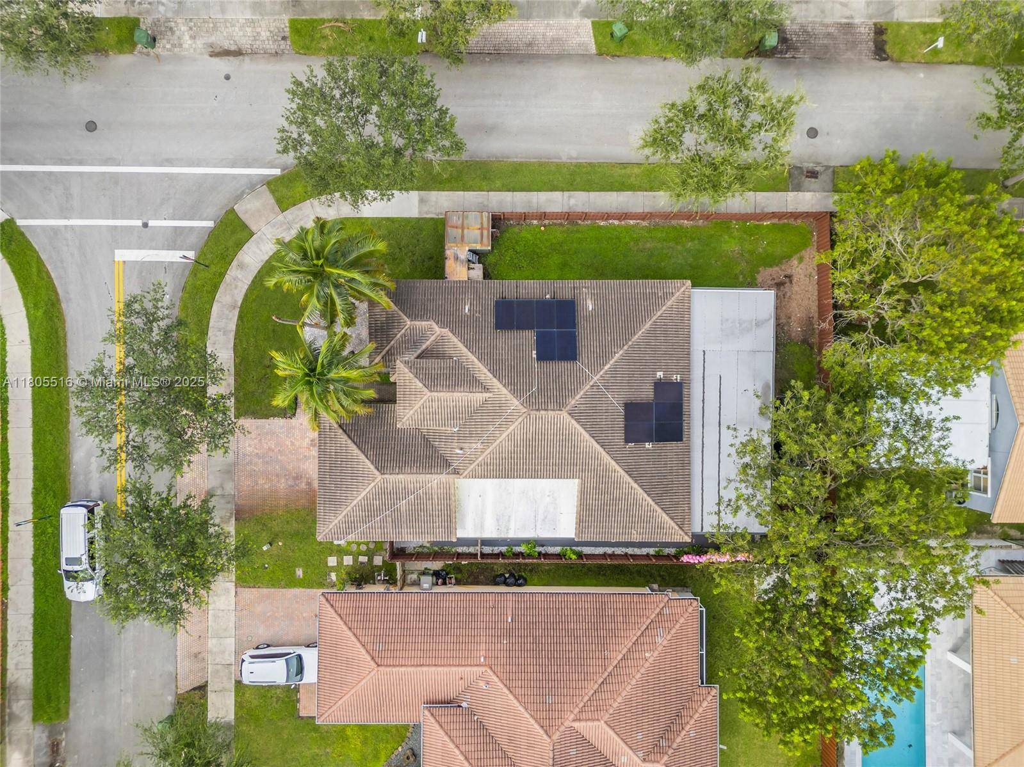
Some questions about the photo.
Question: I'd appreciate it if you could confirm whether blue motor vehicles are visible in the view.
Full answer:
No, no blue motor vehicle is visible in the view.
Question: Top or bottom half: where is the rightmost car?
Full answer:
You can find the rightmost car in the bottom half.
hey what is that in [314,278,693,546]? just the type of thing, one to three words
house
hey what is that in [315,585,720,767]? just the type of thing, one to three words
house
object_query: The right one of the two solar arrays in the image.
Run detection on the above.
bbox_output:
[624,374,683,446]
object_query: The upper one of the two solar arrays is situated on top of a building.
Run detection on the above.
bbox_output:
[496,295,577,363]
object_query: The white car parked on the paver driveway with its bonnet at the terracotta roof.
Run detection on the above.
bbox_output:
[238,642,316,690]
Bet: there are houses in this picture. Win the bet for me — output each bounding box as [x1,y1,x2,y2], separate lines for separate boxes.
[953,575,1024,767]
[314,278,693,546]
[315,585,720,767]
[954,326,1024,521]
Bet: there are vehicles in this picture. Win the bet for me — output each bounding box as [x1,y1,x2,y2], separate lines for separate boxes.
[58,496,113,604]
[238,642,316,690]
